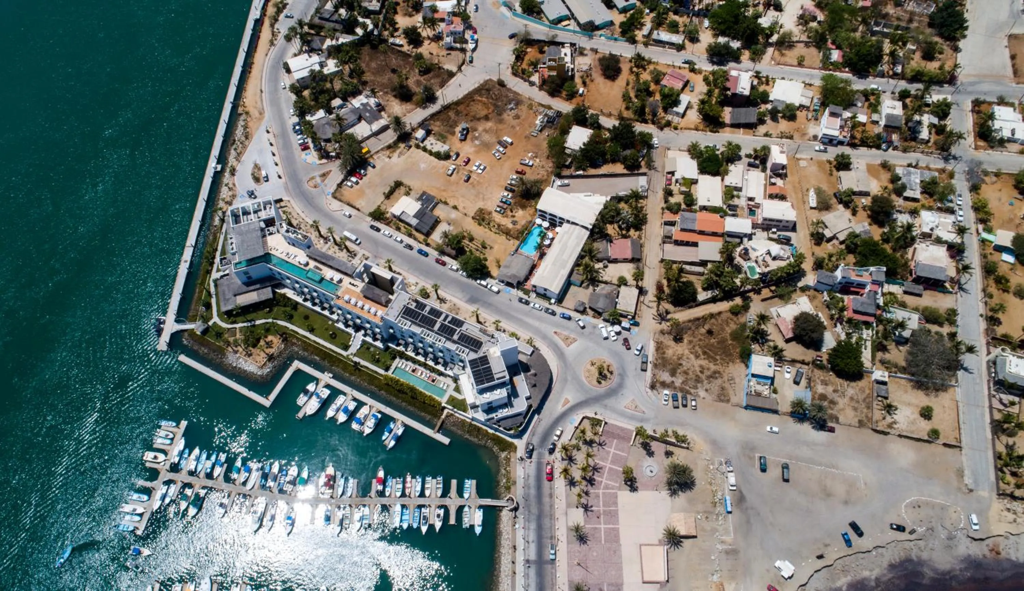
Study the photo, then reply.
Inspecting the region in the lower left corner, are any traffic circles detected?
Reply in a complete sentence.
No, I can find no traffic circle in the lower left corner.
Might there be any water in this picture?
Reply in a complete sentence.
Yes, there is water in the image.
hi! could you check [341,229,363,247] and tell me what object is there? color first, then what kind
white vehicle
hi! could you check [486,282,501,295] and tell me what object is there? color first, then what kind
white vehicle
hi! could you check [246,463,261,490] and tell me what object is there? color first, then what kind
white boat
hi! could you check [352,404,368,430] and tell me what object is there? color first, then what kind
white boat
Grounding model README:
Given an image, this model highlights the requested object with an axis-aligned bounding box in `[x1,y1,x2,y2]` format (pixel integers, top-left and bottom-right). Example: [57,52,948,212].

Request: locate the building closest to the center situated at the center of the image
[496,252,535,289]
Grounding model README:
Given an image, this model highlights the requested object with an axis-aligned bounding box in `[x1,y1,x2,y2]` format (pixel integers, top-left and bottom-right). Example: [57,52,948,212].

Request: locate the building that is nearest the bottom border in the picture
[667,512,697,537]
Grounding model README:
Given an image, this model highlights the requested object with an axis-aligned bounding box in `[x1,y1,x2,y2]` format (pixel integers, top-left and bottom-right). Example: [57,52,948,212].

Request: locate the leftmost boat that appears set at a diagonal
[54,546,73,568]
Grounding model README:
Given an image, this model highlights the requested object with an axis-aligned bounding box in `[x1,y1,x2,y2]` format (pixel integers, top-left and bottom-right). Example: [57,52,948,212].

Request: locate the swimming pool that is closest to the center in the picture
[520,225,545,255]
